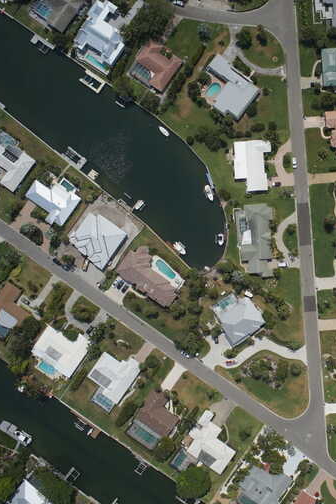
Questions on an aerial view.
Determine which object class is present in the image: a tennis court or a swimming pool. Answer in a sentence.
This aerial view contains a swimming pool.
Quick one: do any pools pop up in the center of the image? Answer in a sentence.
Yes, a pool appears in the center of the image.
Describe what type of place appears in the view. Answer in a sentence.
The picture captures a residential area.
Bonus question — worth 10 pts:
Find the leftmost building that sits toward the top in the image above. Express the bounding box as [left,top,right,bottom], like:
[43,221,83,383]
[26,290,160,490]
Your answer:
[0,132,36,192]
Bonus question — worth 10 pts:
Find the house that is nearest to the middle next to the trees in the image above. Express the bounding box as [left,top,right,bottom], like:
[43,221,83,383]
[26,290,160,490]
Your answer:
[115,248,177,307]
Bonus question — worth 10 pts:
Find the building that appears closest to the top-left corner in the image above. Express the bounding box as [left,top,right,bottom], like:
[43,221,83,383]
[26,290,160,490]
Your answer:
[28,0,93,33]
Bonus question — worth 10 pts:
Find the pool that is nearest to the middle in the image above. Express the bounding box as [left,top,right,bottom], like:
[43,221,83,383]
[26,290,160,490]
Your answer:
[155,256,177,280]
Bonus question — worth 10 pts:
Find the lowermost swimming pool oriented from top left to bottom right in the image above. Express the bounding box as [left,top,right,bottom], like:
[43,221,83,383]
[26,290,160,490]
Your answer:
[133,424,159,447]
